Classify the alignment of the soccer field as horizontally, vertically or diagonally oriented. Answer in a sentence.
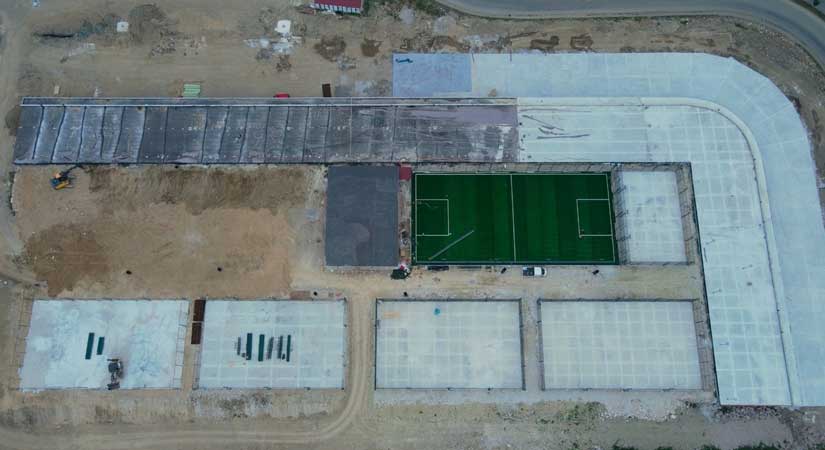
The soccer field runs horizontally in the image.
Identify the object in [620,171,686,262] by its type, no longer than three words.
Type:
sports court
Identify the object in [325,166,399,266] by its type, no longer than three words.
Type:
sports court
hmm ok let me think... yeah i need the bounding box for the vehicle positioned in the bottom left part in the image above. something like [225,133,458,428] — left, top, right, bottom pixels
[103,357,122,390]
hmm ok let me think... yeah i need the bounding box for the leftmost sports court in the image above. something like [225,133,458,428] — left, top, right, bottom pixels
[17,300,188,388]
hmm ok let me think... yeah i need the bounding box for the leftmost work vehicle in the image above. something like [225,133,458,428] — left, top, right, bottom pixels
[46,164,89,190]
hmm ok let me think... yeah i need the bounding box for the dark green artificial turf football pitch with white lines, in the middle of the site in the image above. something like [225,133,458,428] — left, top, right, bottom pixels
[410,171,618,265]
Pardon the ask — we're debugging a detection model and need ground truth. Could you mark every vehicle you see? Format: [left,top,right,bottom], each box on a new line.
[46,164,89,190]
[272,90,289,97]
[103,357,122,390]
[524,266,547,276]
